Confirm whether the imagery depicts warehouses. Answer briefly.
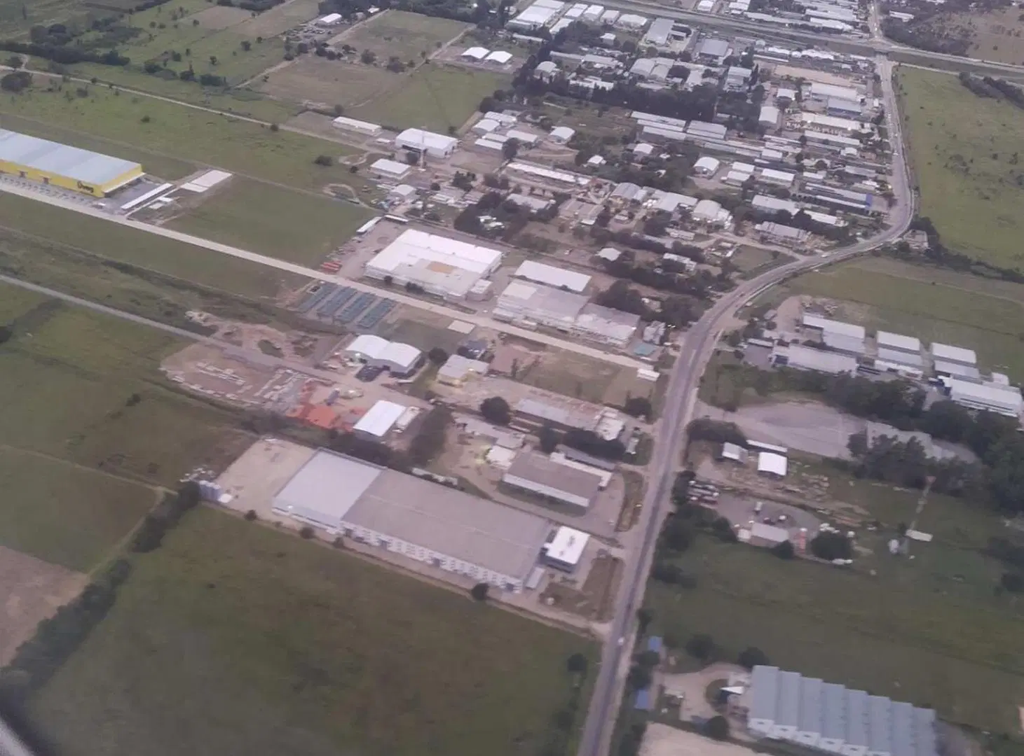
Yes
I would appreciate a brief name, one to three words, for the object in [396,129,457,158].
hangar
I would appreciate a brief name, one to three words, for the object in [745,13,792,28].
building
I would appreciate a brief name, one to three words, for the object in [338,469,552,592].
warehouse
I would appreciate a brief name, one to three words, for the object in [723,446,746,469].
barn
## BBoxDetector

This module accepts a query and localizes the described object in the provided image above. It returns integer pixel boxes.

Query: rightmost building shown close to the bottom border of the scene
[752,666,935,756]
